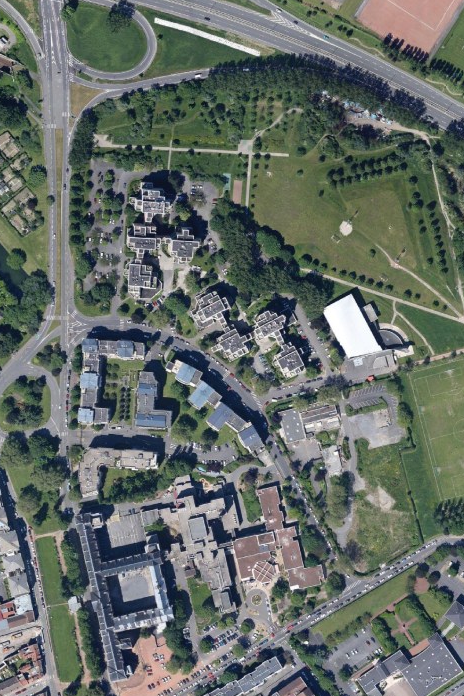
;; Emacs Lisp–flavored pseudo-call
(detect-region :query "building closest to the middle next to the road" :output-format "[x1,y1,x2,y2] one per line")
[212,330,253,362]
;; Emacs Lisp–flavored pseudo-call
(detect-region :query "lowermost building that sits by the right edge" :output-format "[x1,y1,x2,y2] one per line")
[357,632,464,696]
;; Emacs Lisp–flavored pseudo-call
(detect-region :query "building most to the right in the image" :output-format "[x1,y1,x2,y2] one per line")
[445,601,464,629]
